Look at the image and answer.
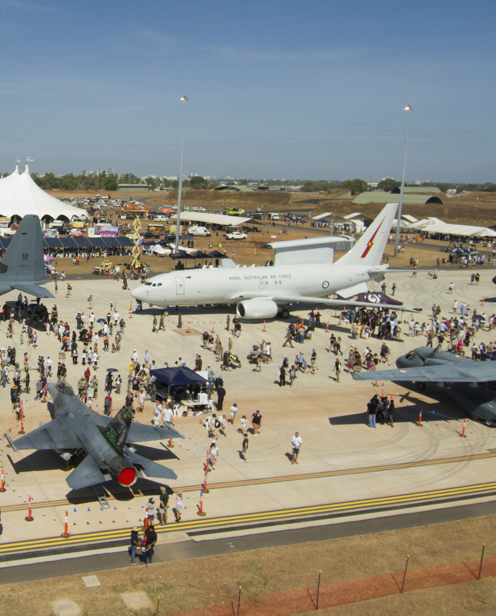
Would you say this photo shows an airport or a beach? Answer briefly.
airport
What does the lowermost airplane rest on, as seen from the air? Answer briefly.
apron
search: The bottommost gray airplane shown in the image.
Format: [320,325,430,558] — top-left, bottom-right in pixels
[3,377,187,498]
